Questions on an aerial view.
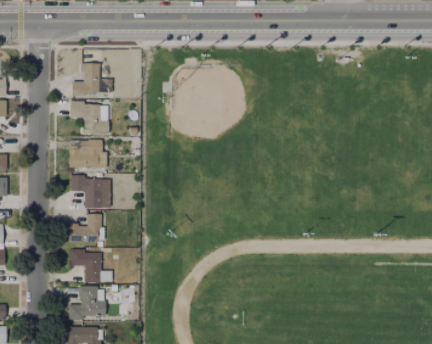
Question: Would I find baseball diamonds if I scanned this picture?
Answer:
Yes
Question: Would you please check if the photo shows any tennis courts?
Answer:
No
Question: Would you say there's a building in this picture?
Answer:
Yes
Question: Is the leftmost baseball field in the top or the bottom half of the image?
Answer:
top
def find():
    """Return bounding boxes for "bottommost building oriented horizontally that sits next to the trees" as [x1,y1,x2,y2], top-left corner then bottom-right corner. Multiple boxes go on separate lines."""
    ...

[68,328,104,344]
